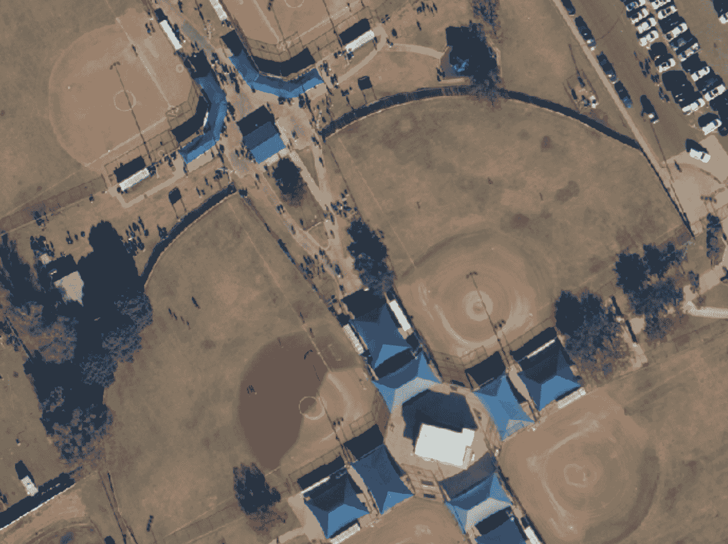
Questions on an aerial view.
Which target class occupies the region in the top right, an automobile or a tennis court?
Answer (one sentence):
It is an automobile that can be seen in the top right.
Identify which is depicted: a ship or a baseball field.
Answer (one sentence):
This aerial view contains a baseball field.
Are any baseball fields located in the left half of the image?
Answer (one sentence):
Yes, I can see a baseball field in the left half of the image.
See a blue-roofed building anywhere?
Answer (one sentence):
Yes, the photo shows a blue-roofed building.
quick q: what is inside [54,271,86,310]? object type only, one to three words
building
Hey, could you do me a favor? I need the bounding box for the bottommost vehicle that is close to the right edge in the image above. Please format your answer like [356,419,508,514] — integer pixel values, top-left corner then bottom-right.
[689,147,713,162]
